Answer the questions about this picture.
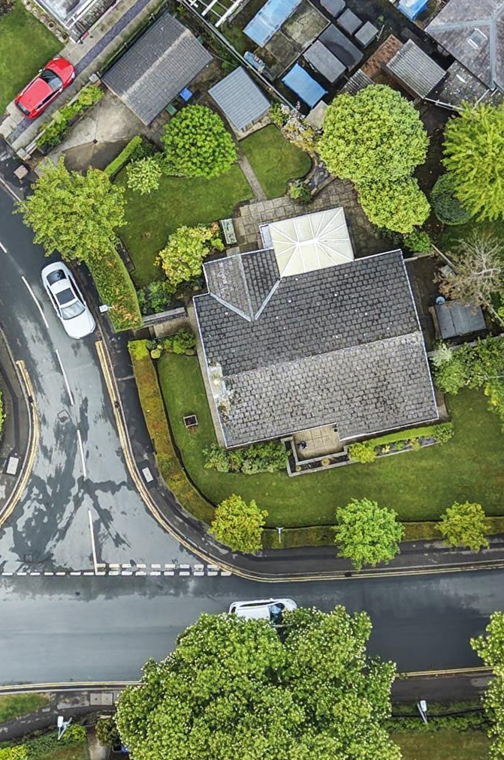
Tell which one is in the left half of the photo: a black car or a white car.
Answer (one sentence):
Visible in the left half of the photo is a white car.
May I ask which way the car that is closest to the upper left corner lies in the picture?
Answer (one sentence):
Seen from above, the car that is closest to the upper left corner lies diagonally.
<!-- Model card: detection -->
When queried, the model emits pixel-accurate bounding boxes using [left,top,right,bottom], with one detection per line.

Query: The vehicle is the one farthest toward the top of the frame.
[14,55,76,119]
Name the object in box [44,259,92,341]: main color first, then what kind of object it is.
white car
